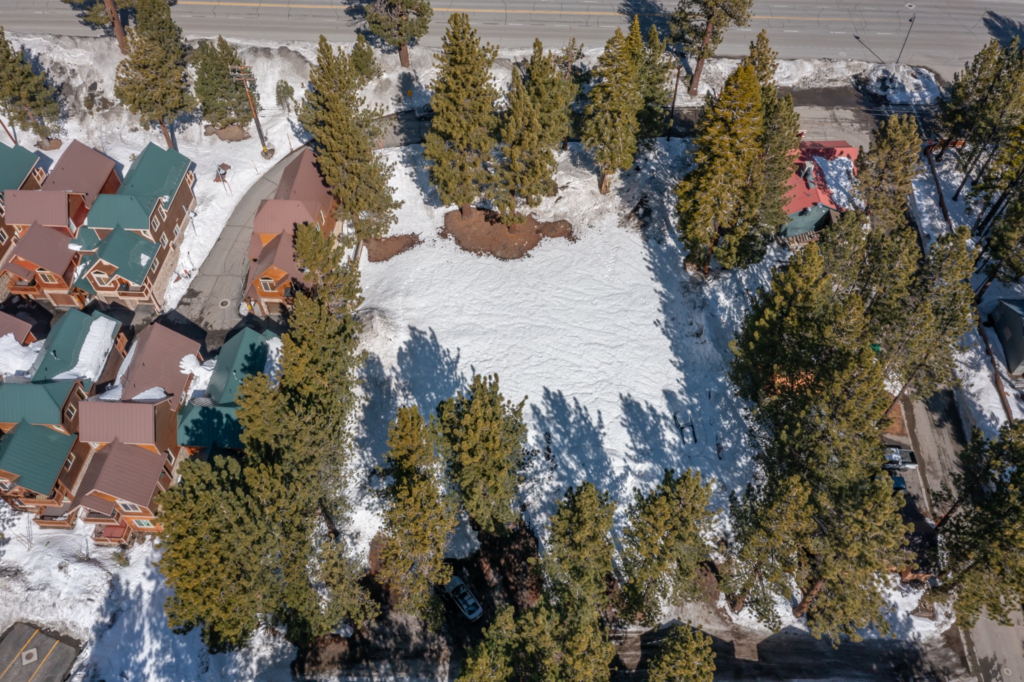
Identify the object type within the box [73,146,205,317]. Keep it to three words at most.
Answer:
house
